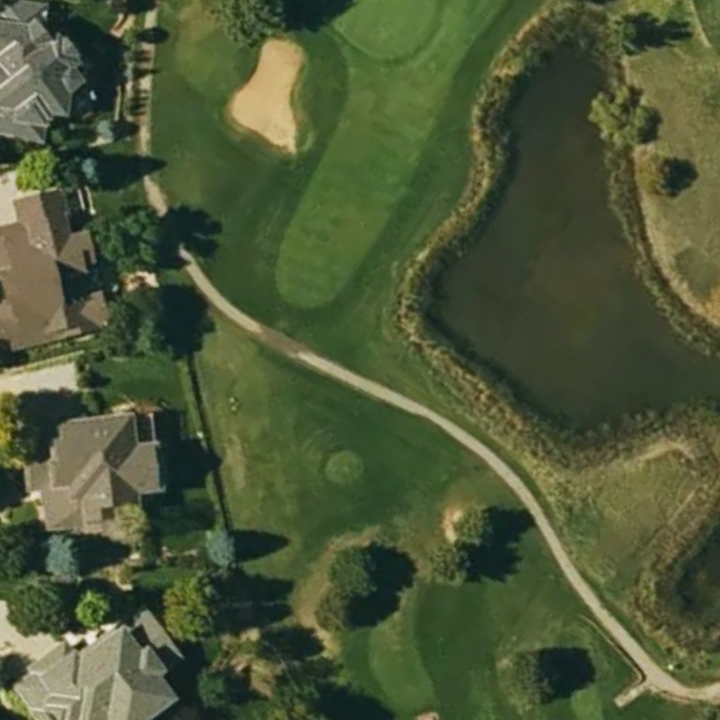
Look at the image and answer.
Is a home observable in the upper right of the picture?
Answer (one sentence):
No, I see no home in the upper right of the picture.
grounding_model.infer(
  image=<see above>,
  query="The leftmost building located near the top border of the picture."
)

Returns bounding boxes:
[0,0,91,151]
